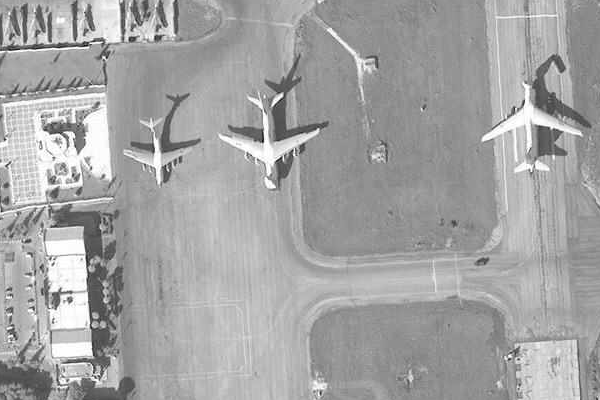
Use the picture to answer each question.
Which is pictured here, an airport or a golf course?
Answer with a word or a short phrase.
airport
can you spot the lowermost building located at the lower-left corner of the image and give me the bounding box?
[60,363,92,379]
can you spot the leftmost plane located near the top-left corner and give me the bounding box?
[3,13,17,43]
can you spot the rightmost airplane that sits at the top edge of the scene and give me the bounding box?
[149,6,163,36]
